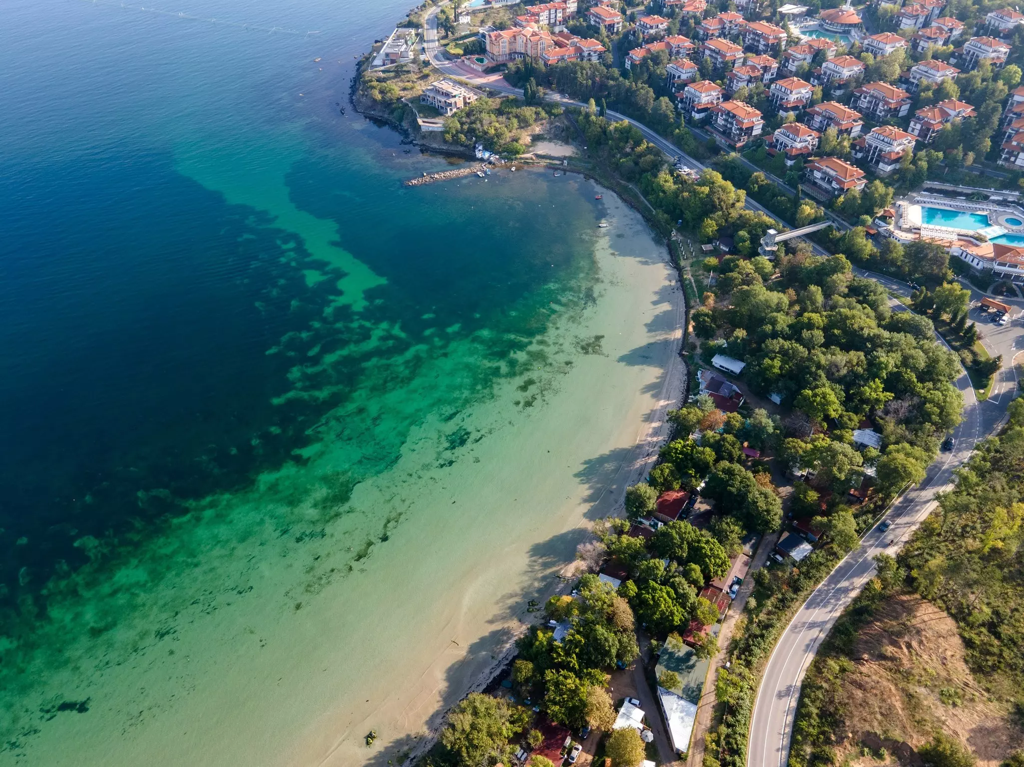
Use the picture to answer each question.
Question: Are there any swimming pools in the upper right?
Yes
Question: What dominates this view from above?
water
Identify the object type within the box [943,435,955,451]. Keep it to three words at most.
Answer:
vehicle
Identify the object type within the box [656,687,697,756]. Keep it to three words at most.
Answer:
building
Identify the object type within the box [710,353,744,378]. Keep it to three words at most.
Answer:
shed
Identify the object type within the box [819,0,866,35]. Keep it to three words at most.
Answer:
building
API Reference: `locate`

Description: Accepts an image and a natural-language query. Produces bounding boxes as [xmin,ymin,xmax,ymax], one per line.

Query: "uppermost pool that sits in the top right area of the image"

[784,20,862,53]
